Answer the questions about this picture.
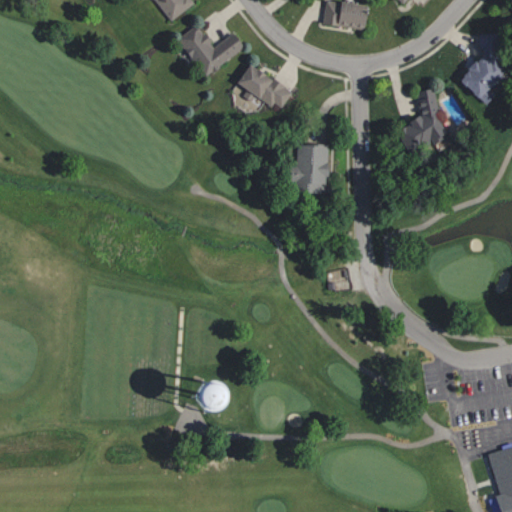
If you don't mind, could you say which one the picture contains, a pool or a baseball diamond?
pool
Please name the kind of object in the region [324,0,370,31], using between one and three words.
house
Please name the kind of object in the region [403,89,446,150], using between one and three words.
house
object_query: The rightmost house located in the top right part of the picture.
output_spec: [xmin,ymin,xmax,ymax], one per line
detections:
[460,59,502,106]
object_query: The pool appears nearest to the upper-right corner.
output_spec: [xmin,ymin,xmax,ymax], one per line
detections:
[438,93,469,128]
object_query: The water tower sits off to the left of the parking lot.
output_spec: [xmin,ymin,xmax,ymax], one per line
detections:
[191,378,232,414]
